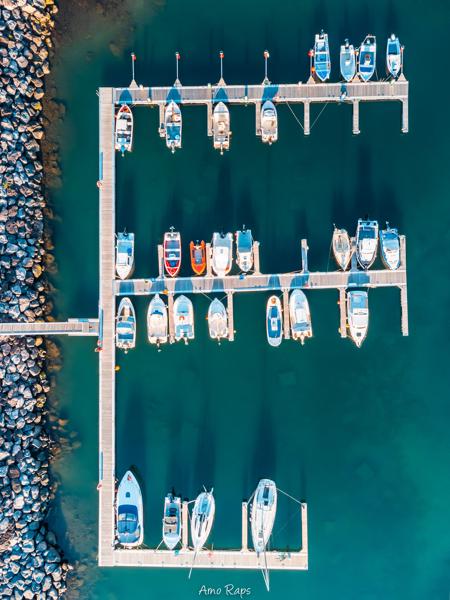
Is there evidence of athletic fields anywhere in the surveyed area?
No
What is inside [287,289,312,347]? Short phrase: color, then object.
white boat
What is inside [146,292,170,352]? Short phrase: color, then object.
white boat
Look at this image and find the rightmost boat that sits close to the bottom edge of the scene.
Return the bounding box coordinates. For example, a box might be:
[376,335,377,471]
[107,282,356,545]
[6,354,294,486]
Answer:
[248,474,277,592]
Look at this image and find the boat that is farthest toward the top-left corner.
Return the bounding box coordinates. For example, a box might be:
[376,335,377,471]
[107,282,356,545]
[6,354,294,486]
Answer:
[114,104,134,163]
